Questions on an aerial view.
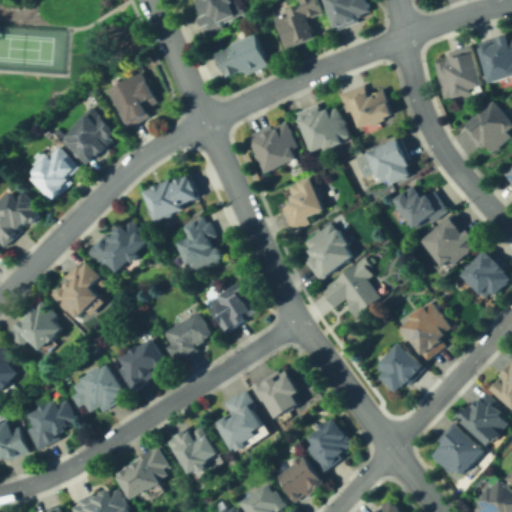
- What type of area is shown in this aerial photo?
residential area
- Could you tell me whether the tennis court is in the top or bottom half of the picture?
top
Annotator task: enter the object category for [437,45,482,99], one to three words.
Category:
house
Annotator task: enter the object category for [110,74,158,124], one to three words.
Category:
house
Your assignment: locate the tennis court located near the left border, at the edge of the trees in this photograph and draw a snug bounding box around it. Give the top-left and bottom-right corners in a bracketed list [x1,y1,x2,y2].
[0,28,68,75]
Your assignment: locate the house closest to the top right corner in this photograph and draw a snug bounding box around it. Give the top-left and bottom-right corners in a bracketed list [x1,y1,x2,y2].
[479,33,512,81]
